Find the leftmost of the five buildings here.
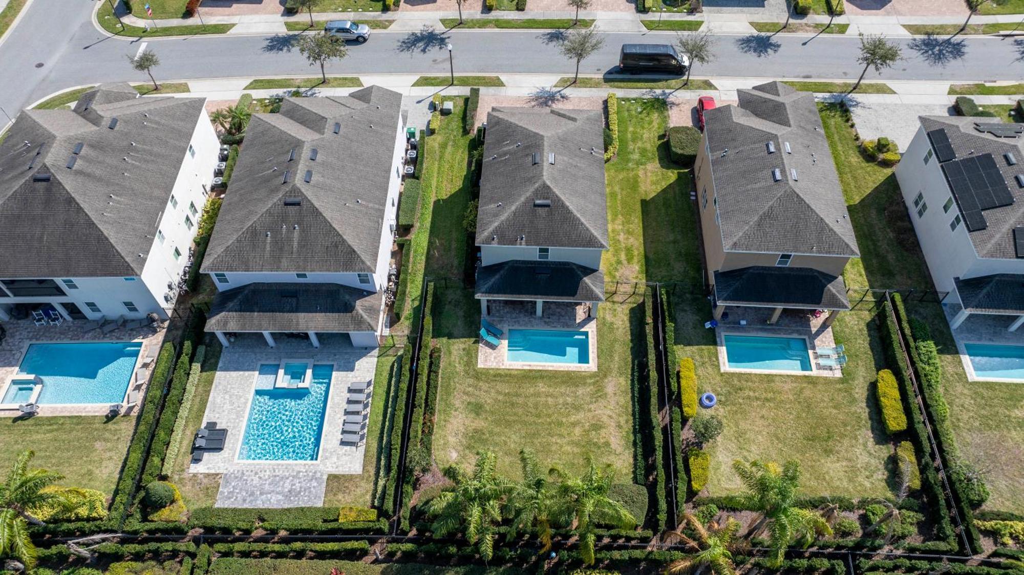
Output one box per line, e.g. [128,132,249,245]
[0,82,219,318]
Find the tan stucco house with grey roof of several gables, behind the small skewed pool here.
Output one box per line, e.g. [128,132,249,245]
[696,81,861,325]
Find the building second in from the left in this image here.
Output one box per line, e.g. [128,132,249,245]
[200,85,405,347]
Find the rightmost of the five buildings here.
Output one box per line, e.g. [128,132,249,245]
[897,116,1024,331]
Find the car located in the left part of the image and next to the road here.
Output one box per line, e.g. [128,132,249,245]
[323,17,372,42]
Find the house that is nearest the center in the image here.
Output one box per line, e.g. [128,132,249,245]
[474,106,609,318]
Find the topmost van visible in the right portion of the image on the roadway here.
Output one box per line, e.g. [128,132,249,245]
[621,43,689,75]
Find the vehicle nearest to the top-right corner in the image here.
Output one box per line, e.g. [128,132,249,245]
[697,94,718,129]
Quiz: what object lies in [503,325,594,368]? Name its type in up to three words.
swimming pool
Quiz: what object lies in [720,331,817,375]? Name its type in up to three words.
swimming pool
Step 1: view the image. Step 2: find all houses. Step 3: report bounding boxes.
[696,81,861,325]
[897,116,1024,331]
[0,82,219,318]
[474,106,609,318]
[200,85,405,347]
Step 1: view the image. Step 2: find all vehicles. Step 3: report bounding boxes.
[621,43,689,75]
[323,17,372,42]
[697,94,718,129]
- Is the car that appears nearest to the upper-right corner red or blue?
red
